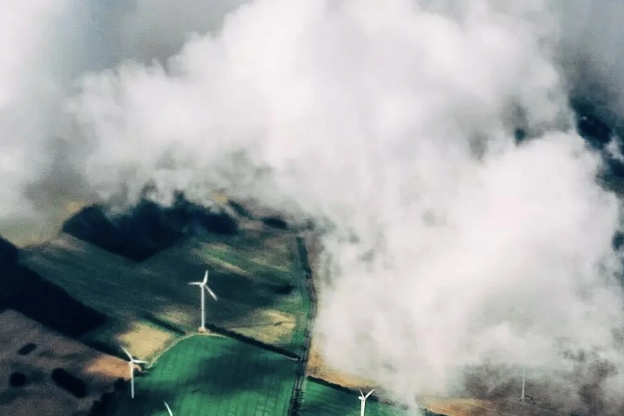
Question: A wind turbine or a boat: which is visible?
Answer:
wind turbine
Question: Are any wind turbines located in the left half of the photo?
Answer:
Yes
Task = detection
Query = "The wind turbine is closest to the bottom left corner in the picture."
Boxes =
[122,346,145,398]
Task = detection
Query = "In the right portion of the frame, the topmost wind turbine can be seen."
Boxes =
[511,341,540,399]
